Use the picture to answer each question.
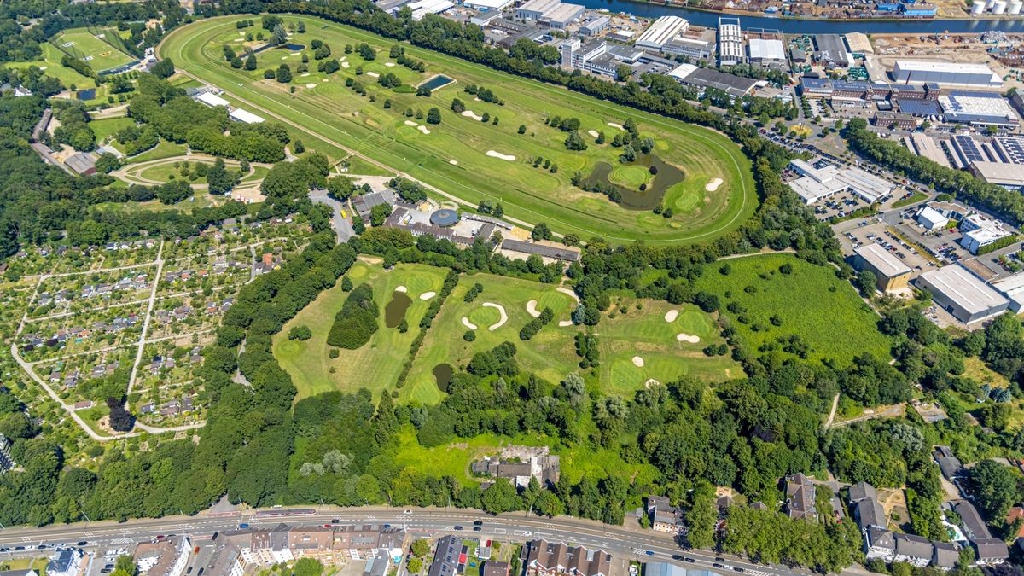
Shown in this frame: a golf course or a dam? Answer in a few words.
golf course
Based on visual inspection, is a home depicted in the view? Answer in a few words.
Yes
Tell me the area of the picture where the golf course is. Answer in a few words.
center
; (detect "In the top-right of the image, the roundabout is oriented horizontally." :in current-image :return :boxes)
[775,119,827,143]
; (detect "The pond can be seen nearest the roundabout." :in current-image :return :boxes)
[582,152,686,210]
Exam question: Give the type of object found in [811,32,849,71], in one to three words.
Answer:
building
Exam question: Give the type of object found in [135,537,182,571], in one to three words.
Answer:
house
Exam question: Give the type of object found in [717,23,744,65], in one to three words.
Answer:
building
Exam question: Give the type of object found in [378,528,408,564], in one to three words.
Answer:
house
